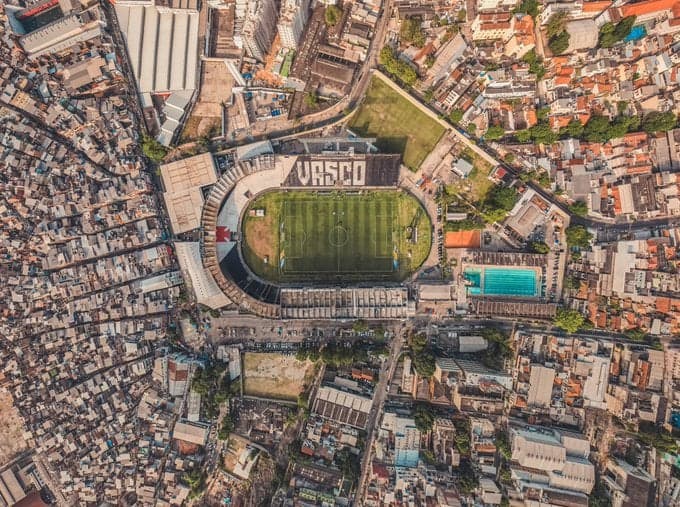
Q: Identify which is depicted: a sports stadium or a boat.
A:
sports stadium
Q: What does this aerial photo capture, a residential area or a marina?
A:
residential area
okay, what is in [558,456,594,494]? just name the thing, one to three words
shed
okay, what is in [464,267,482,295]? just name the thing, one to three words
swimming pool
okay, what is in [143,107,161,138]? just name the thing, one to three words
building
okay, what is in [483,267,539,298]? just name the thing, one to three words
swimming pool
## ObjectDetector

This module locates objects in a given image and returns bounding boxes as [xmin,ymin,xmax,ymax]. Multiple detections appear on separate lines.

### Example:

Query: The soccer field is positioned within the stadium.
[282,198,396,275]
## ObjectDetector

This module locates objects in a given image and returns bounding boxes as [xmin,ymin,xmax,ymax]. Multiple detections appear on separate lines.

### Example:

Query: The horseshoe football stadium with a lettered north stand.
[201,153,433,321]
